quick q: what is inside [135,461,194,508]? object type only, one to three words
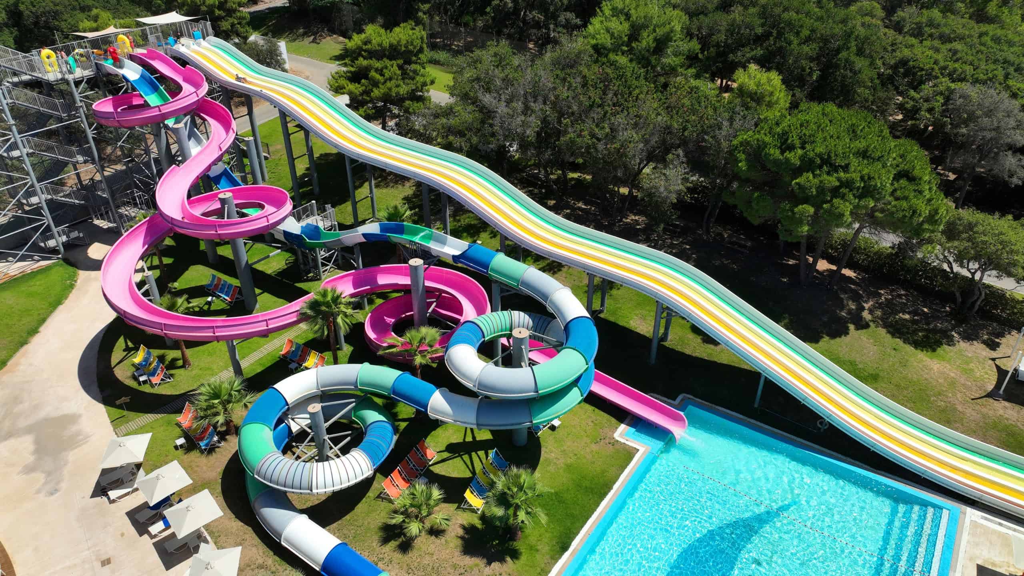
umbrella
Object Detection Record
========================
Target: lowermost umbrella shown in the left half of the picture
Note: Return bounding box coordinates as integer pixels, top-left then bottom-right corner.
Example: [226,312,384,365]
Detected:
[191,544,239,576]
